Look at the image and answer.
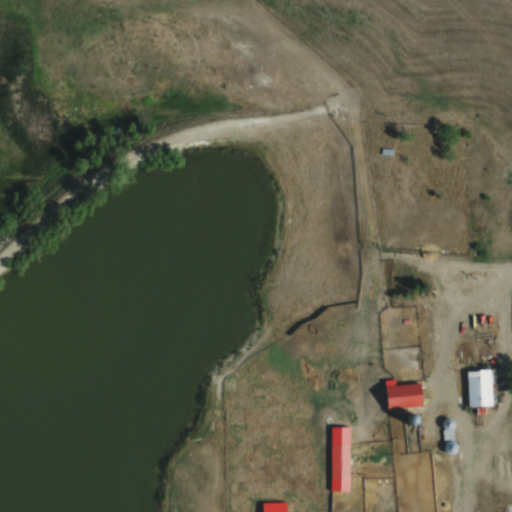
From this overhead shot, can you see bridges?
No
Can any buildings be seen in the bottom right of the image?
Yes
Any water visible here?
Yes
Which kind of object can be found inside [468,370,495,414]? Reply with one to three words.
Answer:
house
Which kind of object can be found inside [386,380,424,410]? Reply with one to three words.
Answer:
barn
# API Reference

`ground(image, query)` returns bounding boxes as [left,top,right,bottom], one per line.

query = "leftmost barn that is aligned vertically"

[331,428,351,492]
